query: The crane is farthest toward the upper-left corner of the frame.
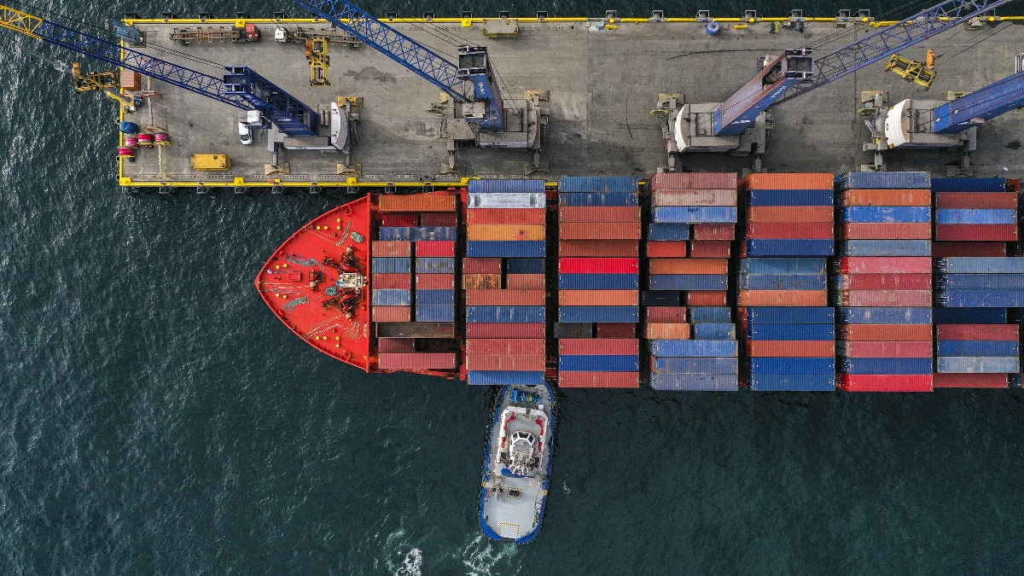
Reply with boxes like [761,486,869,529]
[0,0,362,173]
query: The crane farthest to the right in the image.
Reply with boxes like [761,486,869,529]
[855,57,1024,175]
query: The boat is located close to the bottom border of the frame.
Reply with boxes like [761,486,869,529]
[478,384,555,552]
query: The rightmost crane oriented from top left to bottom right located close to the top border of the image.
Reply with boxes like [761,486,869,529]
[255,0,552,173]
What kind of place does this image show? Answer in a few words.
port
